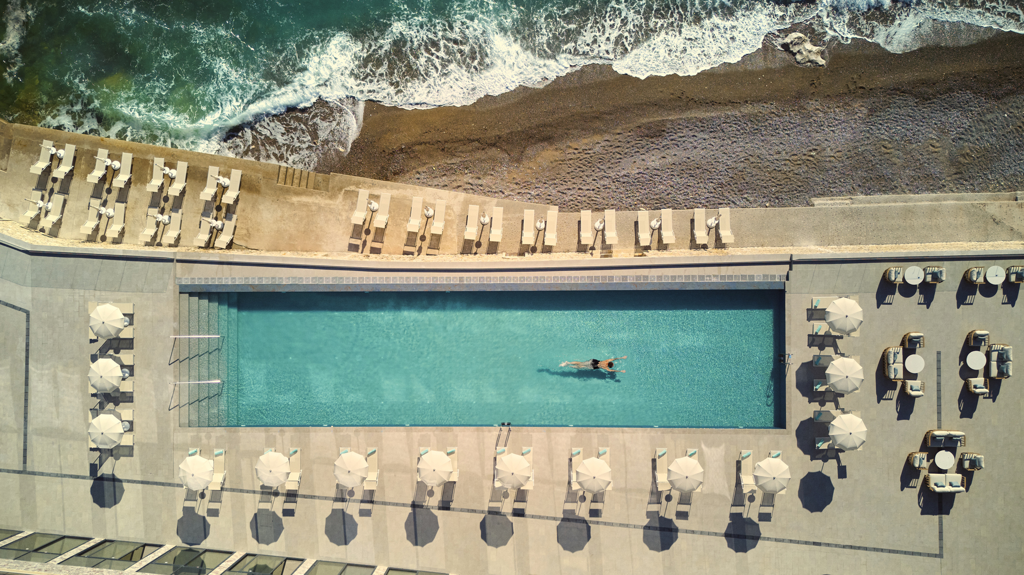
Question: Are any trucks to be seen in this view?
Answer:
No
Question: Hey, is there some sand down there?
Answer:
Yes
